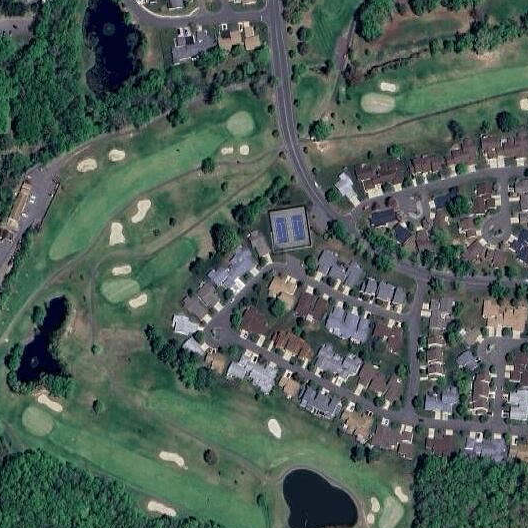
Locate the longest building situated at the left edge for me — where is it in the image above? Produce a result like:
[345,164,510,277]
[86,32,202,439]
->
[10,185,30,222]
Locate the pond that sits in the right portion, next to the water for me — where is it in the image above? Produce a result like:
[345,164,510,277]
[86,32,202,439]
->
[283,468,358,528]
